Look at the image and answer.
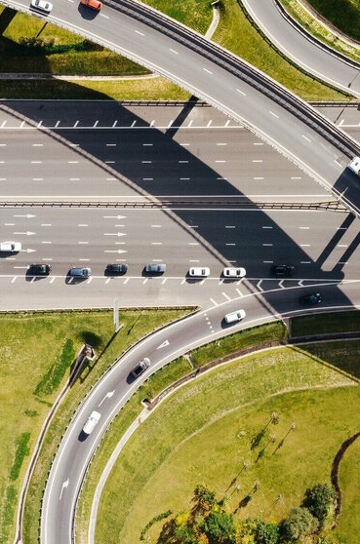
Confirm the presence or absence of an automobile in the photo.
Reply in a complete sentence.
Yes, the photo shows an automobile.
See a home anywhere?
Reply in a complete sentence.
No, no home can be seen from above.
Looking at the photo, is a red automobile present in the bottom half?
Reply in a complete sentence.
No, I see no red automobile in the bottom half.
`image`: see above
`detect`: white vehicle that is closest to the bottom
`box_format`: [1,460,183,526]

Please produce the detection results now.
[82,411,101,435]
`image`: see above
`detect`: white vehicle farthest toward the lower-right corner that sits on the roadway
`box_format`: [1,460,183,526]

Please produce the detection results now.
[223,311,247,325]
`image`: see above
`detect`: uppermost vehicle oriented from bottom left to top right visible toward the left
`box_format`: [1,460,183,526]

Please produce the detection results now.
[129,357,151,379]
